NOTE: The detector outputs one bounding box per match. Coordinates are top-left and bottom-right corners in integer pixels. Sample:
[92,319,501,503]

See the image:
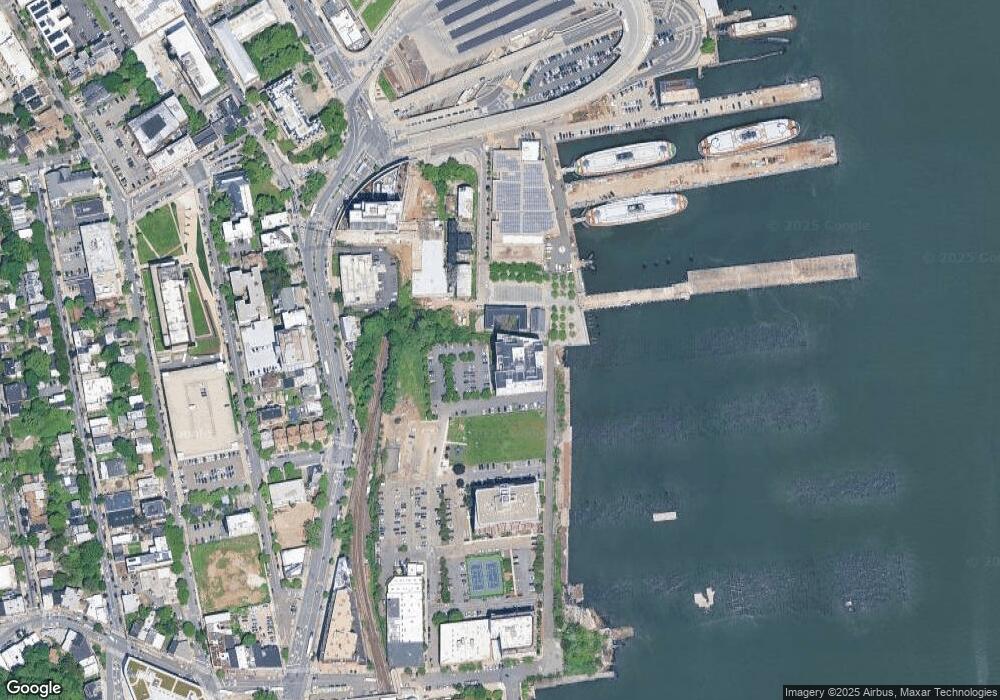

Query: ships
[583,195,689,232]
[697,124,801,160]
[572,143,677,178]
[729,15,798,40]
[653,513,677,522]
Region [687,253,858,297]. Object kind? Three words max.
pier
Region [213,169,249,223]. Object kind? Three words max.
building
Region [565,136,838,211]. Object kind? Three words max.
pier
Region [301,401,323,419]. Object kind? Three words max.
house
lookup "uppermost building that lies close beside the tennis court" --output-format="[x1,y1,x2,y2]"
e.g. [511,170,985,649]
[474,482,538,535]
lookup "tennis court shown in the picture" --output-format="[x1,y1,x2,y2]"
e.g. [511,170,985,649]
[466,555,503,597]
